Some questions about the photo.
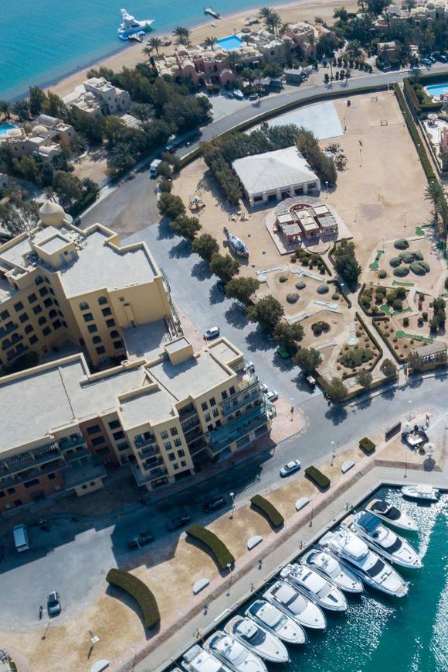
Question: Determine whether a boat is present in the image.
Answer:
Yes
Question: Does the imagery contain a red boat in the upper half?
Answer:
No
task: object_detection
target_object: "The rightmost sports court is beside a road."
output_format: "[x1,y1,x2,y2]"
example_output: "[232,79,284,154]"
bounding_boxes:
[259,100,343,140]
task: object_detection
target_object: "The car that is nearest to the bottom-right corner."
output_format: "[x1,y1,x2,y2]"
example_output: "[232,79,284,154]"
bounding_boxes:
[277,459,303,476]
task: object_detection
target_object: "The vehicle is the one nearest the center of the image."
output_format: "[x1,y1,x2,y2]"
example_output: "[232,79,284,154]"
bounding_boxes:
[201,326,221,339]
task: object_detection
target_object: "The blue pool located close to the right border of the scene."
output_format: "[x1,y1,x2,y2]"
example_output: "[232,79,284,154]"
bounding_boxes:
[423,83,448,99]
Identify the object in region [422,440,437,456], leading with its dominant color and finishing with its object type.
white umbrella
